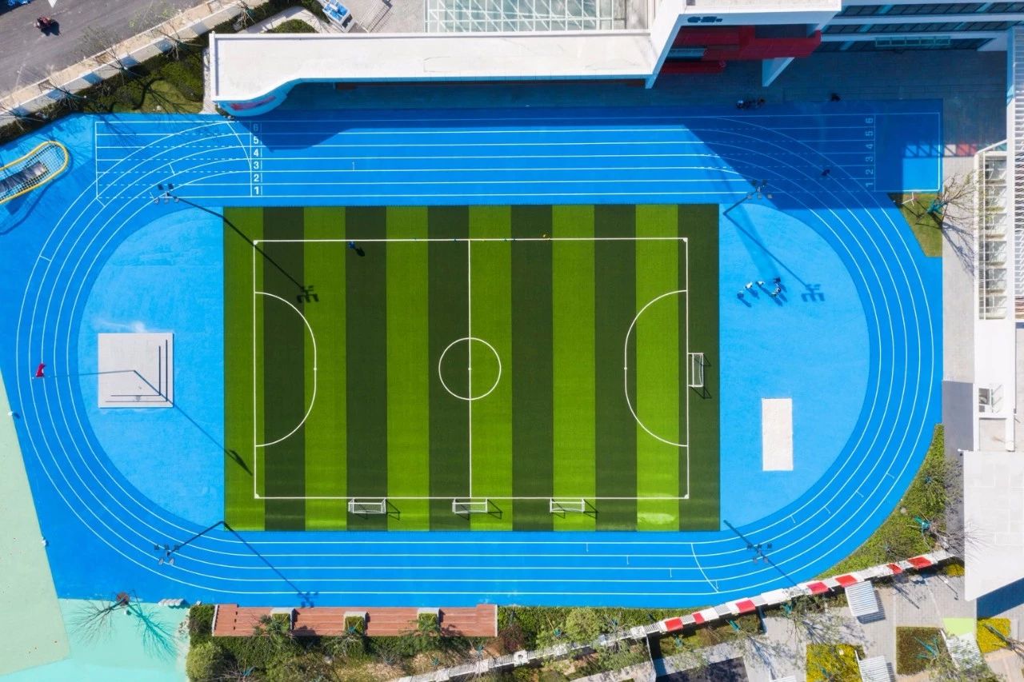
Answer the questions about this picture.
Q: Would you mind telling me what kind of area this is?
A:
sports ground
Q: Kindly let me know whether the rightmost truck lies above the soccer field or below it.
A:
above it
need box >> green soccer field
[223,203,721,532]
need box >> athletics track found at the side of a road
[0,100,943,609]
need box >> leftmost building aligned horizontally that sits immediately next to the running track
[210,32,658,115]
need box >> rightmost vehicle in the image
[311,0,357,32]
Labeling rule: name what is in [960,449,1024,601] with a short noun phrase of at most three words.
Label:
building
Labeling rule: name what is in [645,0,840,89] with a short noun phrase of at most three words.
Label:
building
